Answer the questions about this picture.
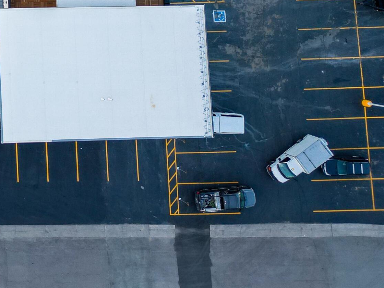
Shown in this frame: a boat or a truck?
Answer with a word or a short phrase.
truck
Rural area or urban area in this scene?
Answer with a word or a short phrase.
urban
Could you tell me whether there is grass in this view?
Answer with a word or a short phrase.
No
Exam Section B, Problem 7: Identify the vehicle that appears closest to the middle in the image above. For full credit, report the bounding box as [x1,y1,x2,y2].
[213,111,248,134]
